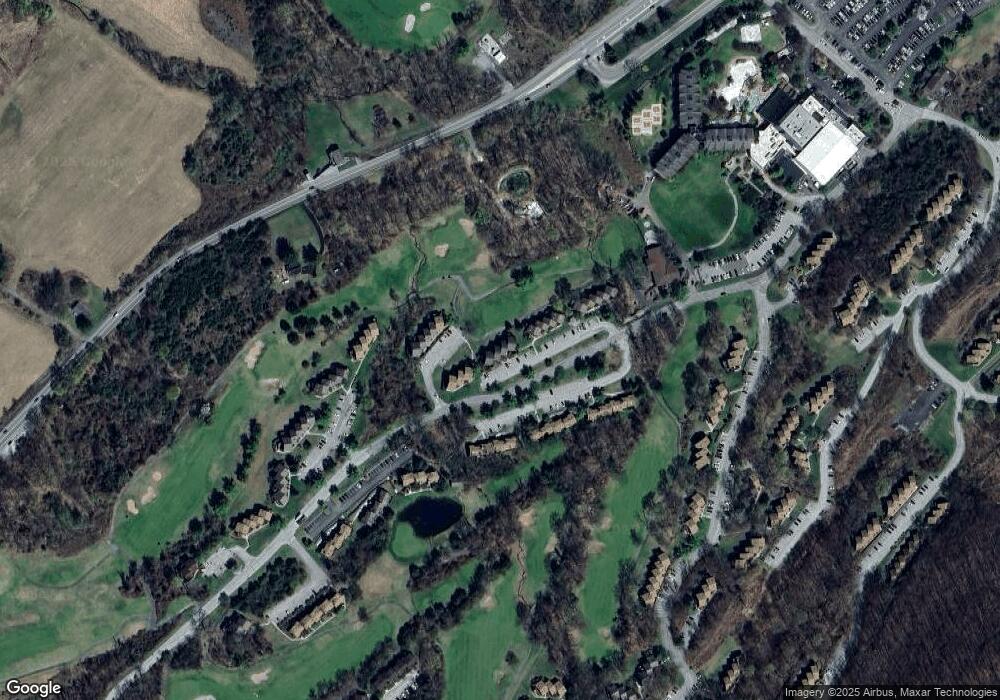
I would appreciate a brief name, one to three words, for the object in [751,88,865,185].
building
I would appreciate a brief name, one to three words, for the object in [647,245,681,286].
building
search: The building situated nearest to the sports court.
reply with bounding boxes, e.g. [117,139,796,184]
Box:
[650,68,755,180]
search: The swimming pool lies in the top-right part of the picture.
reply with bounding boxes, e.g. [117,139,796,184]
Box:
[712,55,768,125]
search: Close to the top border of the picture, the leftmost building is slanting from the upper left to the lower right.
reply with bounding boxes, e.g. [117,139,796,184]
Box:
[479,33,505,63]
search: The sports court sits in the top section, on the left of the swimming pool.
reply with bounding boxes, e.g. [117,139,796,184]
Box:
[632,104,662,135]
